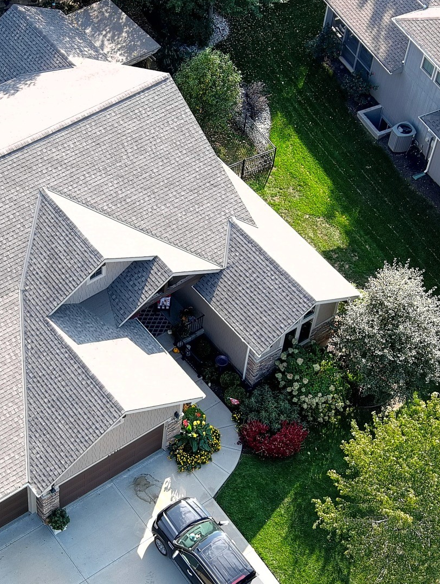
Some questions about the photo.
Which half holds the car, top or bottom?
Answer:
bottom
